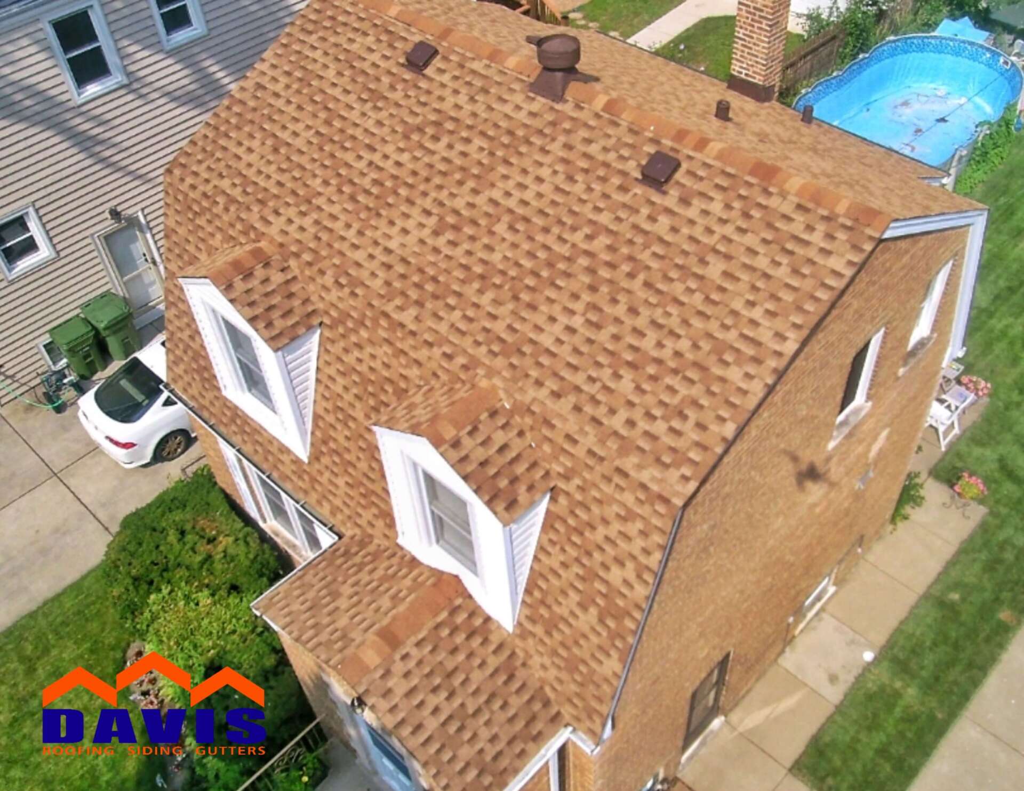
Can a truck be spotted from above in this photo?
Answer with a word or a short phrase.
No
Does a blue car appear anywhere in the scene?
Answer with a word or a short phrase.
No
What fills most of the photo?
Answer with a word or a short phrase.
buildings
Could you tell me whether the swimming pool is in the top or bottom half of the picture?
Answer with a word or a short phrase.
top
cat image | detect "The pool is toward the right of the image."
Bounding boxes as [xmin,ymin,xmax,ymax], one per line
[780,28,1024,198]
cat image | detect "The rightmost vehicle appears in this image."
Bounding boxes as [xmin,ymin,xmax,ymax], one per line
[71,337,198,475]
